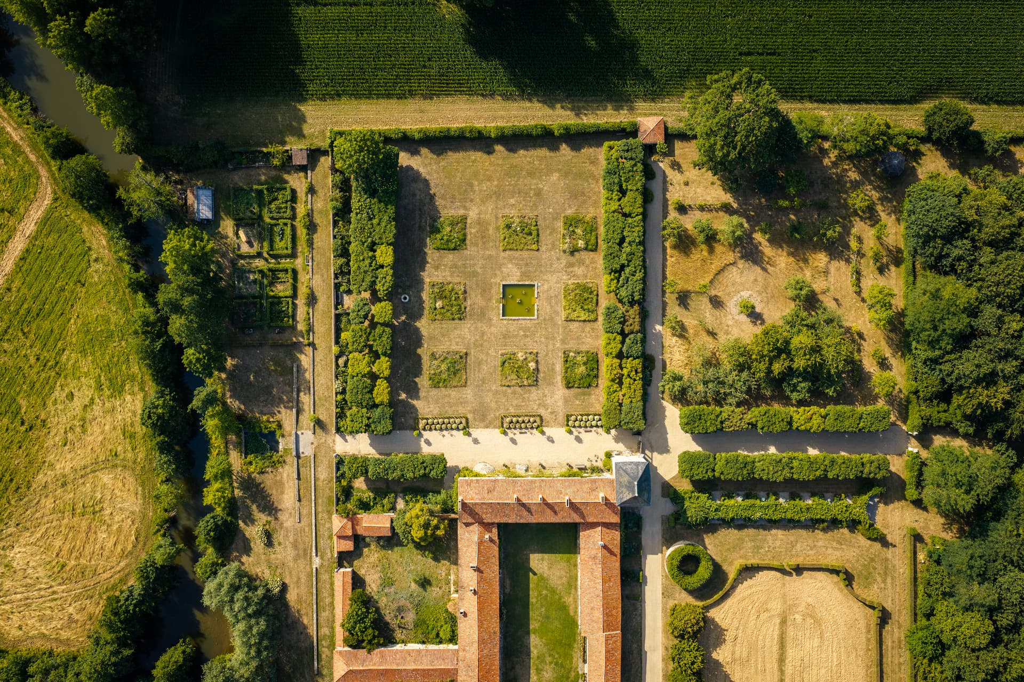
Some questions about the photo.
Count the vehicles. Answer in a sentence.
I count no vehicles.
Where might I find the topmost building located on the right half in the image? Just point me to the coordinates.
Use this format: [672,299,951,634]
[637,116,665,147]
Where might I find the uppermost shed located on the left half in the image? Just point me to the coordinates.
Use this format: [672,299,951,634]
[292,148,310,167]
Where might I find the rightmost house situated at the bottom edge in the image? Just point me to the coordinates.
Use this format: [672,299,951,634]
[457,456,652,682]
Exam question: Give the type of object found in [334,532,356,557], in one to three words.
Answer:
shed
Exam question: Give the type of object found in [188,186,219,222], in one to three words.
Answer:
shed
